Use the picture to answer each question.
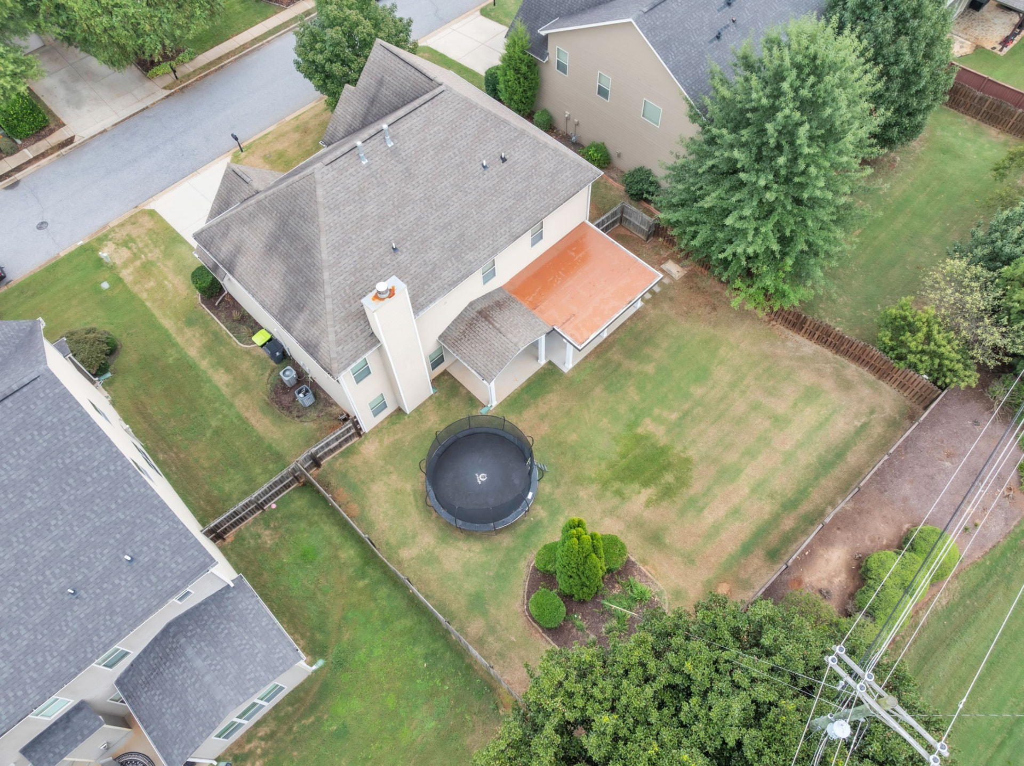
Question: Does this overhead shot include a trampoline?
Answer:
Yes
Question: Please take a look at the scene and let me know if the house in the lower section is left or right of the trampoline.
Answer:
to the left of it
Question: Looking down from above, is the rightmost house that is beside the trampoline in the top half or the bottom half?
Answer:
top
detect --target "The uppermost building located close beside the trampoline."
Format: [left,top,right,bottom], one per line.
[189,38,666,433]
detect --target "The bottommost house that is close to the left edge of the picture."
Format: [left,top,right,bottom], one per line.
[0,317,320,766]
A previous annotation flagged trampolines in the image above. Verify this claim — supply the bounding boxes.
[420,411,542,534]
